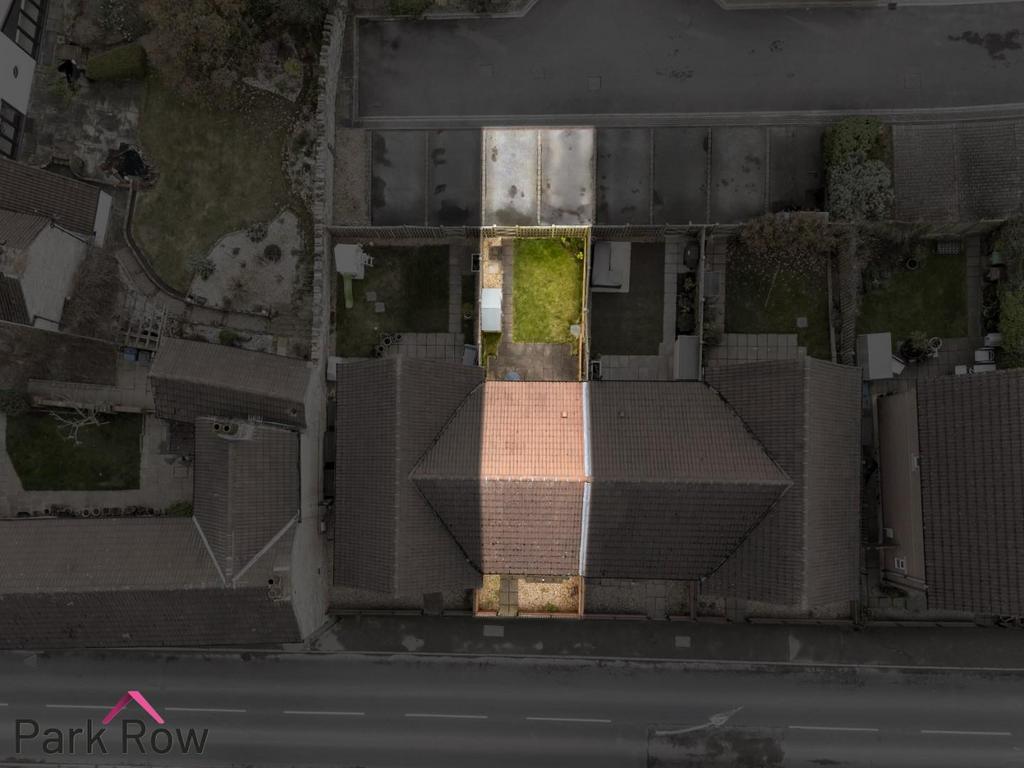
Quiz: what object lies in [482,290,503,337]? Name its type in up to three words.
shed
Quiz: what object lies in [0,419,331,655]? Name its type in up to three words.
house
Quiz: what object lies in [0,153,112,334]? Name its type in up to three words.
shed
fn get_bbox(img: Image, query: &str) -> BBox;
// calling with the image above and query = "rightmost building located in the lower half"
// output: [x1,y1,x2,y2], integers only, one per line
[879,368,1024,616]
